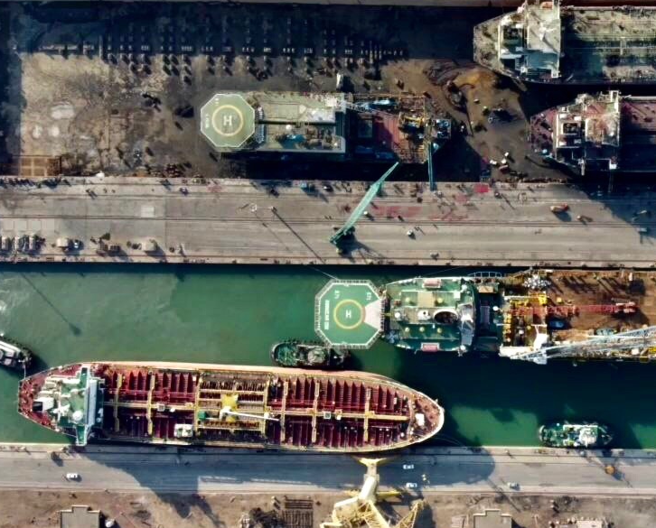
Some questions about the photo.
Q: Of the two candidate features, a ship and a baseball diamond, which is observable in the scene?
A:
ship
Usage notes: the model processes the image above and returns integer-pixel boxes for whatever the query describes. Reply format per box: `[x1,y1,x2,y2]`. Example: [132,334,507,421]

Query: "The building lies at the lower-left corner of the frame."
[61,502,105,528]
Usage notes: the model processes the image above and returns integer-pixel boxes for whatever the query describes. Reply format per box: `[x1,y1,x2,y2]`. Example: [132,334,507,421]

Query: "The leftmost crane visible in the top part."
[322,161,401,253]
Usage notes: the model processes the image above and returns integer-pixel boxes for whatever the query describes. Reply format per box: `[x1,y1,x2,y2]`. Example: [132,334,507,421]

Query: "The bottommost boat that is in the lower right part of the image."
[540,420,614,449]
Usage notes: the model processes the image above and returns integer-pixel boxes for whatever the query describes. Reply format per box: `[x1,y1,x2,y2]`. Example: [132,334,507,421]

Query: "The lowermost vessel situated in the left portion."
[17,362,445,451]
